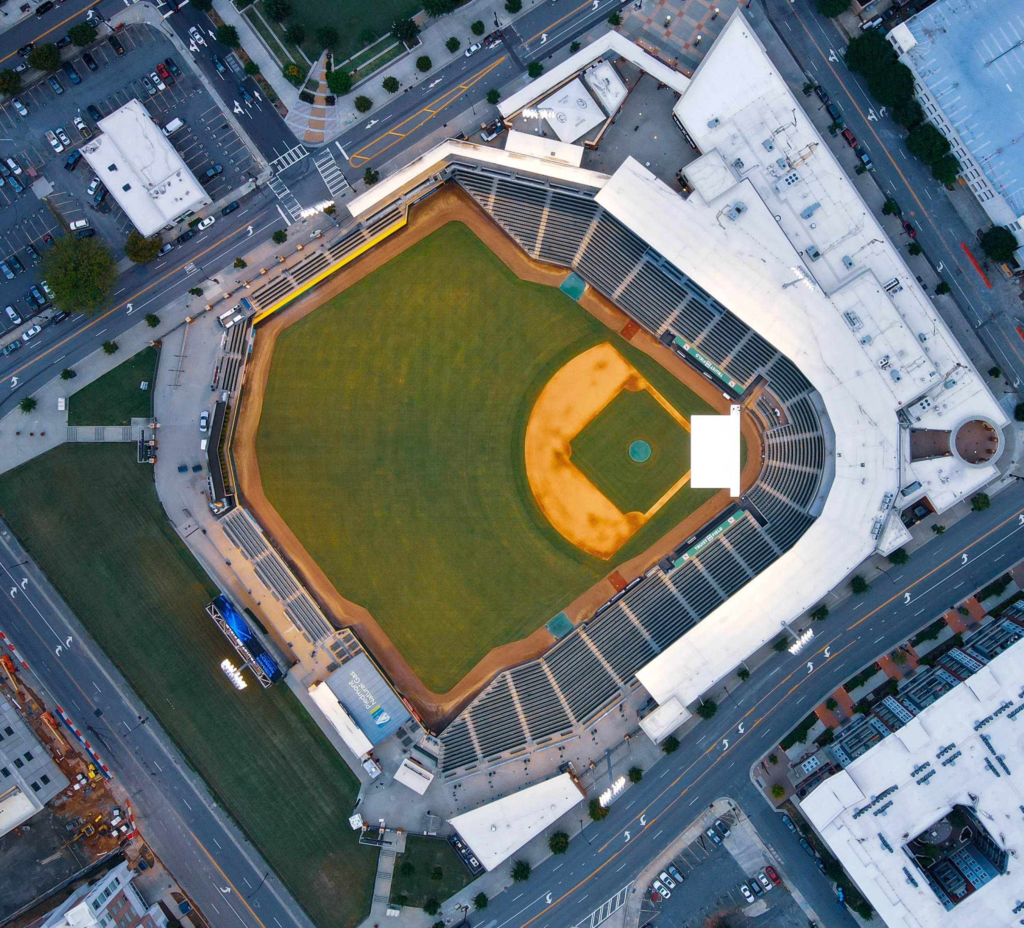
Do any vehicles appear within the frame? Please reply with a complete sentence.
Yes, this view includes a vehicle.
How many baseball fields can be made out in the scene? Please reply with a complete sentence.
In total, 1 baseball field can be seen.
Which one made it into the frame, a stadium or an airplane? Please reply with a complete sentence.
Visible in the photo is a stadium.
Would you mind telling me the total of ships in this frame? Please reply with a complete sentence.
No ships are visible.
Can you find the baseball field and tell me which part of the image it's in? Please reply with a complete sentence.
The baseball field sits in the center section of the image.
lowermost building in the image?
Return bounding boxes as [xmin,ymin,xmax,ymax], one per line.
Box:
[29,854,150,928]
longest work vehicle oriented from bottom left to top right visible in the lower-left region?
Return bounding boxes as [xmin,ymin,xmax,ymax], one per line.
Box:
[60,824,96,851]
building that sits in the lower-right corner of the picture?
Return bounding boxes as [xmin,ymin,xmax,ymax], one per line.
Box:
[781,600,1024,928]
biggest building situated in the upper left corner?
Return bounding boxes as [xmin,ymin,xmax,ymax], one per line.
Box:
[79,97,211,237]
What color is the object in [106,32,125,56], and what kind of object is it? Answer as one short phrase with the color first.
black vehicle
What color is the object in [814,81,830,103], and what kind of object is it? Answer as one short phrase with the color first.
black car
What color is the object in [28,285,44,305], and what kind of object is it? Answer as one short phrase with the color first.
blue car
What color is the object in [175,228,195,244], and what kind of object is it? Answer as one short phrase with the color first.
black car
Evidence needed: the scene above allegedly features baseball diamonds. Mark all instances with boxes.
[233,173,764,739]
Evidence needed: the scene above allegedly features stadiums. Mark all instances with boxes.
[206,6,1012,872]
